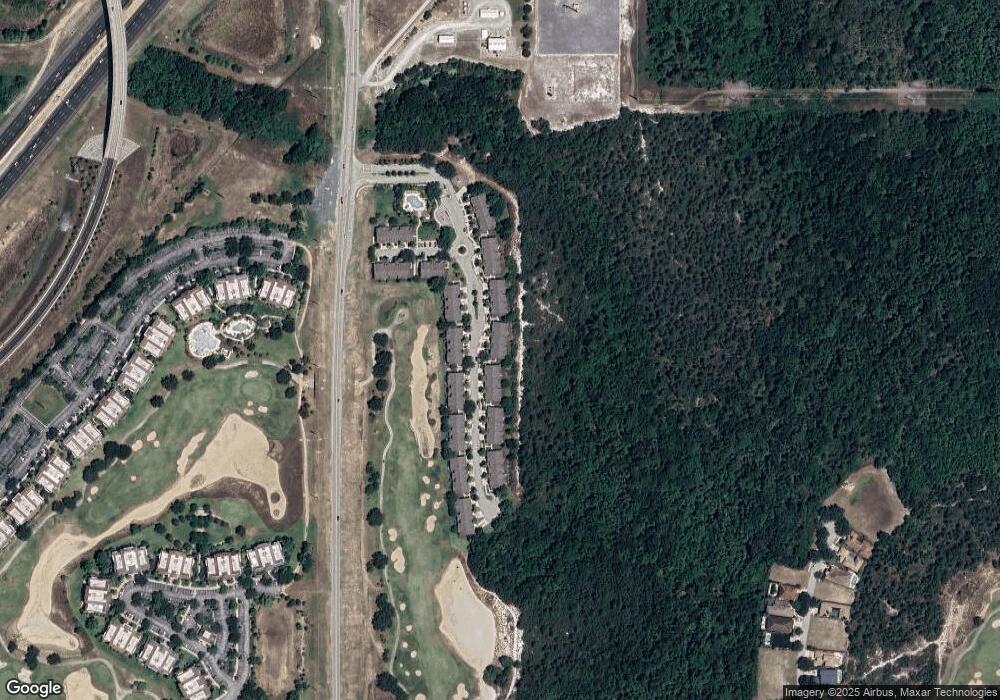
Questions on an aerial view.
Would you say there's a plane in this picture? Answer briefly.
No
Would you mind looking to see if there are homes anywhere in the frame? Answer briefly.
Yes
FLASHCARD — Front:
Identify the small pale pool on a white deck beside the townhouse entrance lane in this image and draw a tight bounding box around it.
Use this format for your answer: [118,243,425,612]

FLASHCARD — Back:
[403,191,427,211]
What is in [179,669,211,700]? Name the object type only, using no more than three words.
building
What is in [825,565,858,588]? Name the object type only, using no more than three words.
house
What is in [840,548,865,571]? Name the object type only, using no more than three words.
house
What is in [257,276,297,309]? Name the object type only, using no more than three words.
building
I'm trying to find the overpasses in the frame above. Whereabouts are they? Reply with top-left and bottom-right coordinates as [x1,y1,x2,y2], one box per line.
[77,0,140,163]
